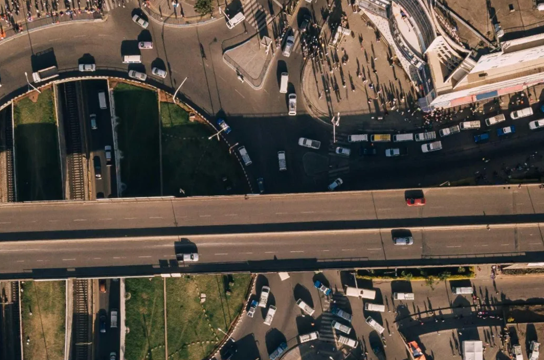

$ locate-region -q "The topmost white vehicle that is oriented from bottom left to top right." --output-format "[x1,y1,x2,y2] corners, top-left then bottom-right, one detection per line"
[224,12,246,30]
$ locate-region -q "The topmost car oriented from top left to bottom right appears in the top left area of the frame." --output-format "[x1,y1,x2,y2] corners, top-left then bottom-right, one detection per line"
[131,14,151,29]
